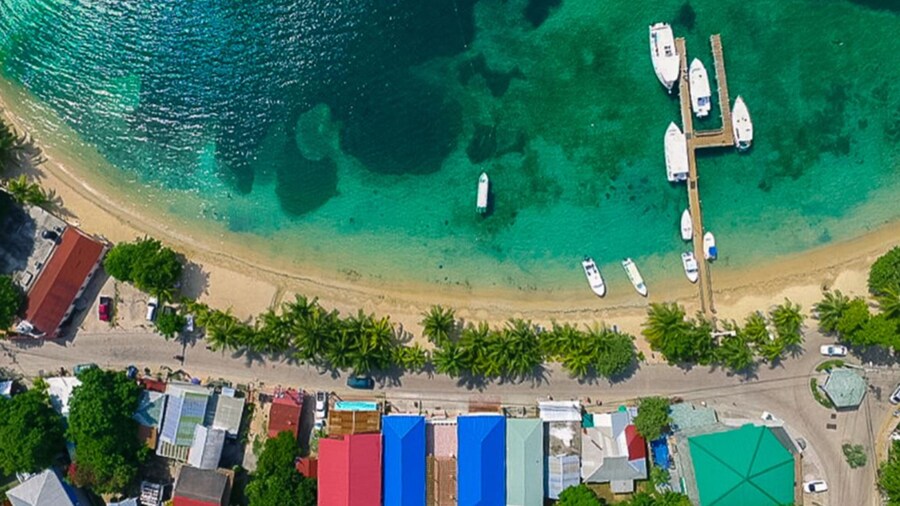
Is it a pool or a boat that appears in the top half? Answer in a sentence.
The one visible in the top half is a boat.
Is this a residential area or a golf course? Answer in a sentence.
The picture captures a residential area.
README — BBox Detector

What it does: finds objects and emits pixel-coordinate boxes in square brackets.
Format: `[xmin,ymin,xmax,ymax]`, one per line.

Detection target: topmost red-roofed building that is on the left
[19,227,106,338]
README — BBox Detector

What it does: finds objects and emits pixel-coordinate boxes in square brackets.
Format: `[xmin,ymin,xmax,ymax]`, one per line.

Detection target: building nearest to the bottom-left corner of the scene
[5,464,87,506]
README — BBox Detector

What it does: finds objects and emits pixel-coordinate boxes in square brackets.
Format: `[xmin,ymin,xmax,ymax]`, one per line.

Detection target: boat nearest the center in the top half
[476,174,489,215]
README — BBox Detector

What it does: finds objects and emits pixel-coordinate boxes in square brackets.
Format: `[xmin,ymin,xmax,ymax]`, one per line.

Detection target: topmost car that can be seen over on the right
[817,343,846,357]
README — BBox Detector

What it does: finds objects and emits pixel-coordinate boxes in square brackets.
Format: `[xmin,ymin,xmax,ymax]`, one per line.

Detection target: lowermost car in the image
[802,478,829,494]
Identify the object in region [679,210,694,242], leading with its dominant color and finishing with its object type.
white boat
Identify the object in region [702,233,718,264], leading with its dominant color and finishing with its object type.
white boat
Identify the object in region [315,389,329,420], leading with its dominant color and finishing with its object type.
white vehicle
